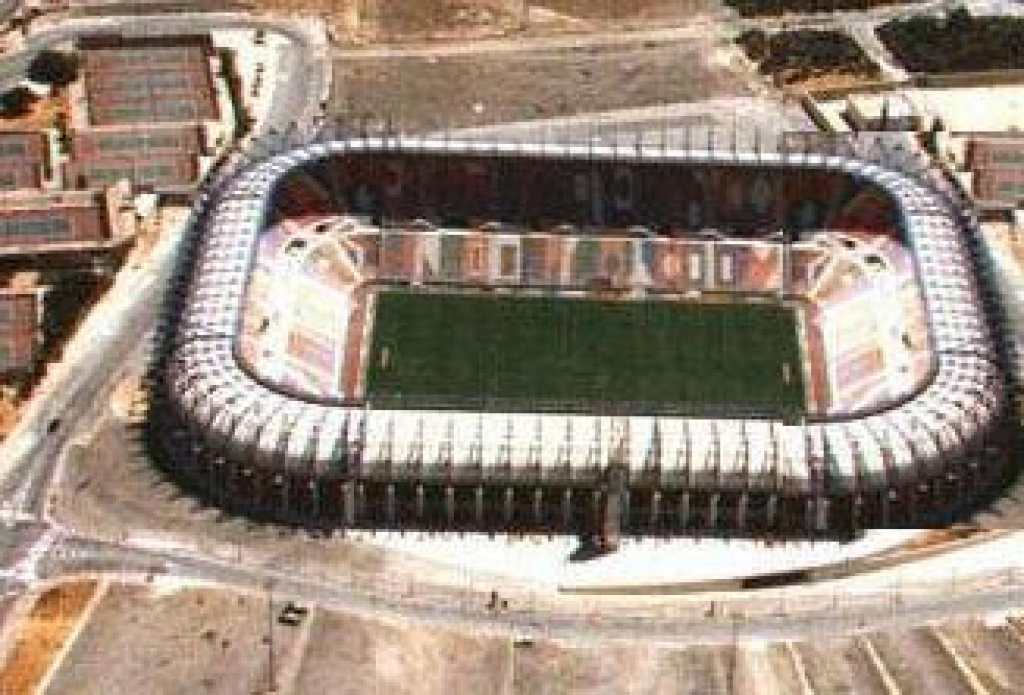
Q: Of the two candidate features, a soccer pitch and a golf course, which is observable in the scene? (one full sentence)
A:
The one in the frame is a soccer pitch.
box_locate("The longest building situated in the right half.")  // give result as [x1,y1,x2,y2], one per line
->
[843,98,913,132]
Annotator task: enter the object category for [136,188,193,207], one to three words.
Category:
building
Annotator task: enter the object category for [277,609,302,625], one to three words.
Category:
vehicle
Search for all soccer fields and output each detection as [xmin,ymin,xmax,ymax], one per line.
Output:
[340,284,831,422]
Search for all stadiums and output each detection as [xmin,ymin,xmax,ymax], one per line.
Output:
[135,114,1024,560]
